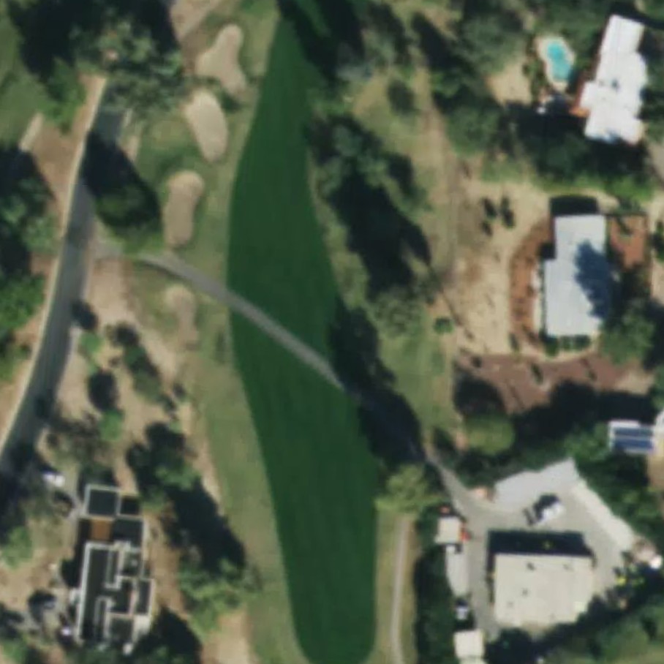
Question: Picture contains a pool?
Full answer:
Yes, the picture does show a pool.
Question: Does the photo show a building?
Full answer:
Yes, the frame does contain a building.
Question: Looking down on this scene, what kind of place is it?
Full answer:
The picture captures a golf course.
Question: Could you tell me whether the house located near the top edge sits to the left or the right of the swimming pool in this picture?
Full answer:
The house located near the top edge is to the right of the swimming pool.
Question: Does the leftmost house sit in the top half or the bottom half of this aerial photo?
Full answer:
The leftmost house sits in the bottom half of the picture.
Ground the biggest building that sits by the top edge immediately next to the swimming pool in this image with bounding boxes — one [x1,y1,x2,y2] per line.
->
[569,16,648,144]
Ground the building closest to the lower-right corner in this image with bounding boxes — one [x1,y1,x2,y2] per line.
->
[495,558,594,627]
